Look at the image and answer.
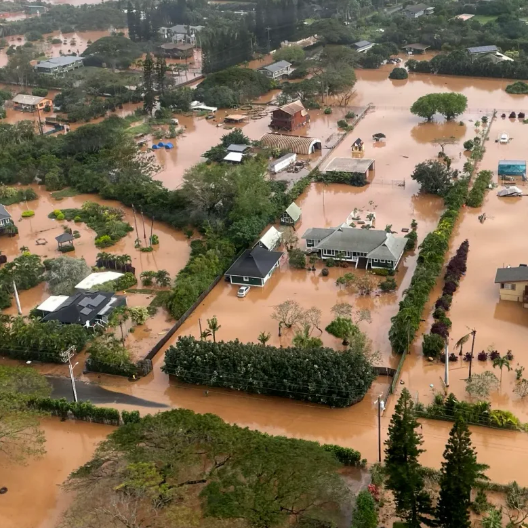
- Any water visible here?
Yes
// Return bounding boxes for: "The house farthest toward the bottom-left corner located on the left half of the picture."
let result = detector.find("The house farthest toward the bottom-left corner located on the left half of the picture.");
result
[37,268,130,336]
